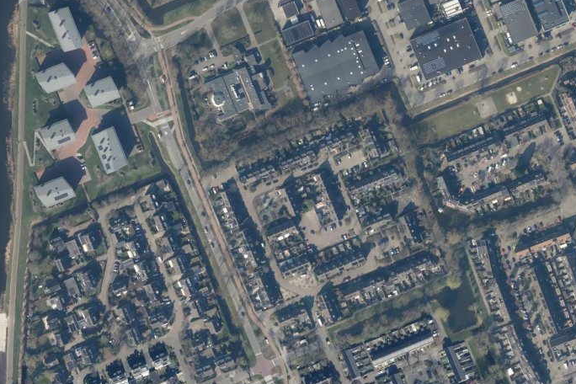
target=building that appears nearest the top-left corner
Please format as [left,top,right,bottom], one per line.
[47,5,82,55]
